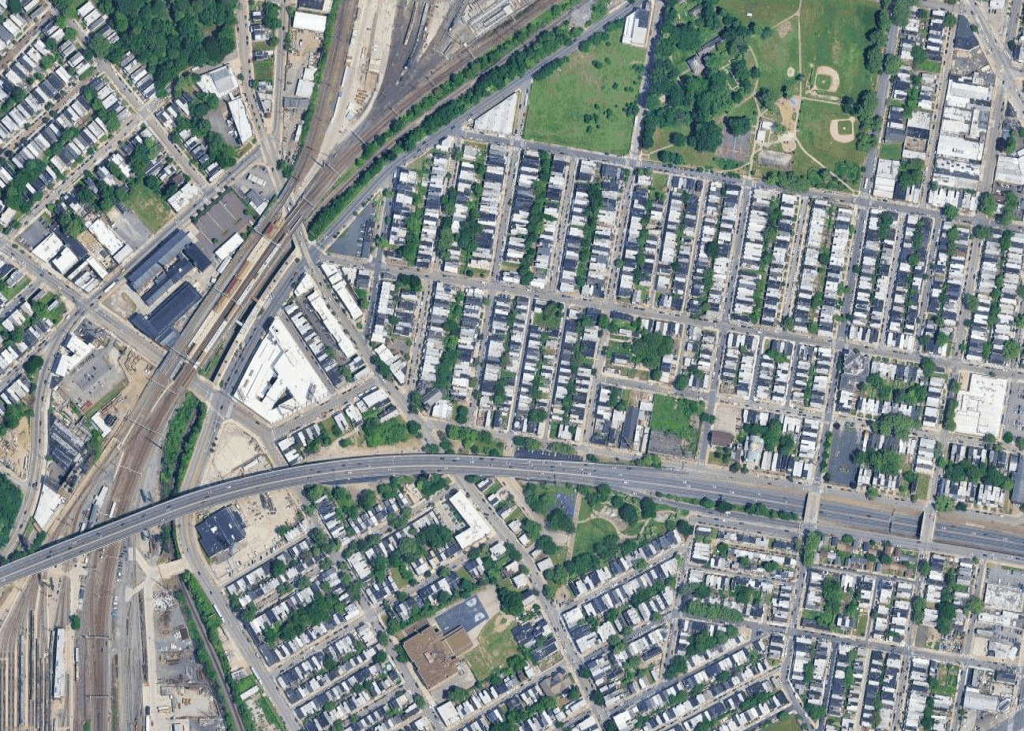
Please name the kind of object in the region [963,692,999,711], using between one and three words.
shed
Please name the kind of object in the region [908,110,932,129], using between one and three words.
building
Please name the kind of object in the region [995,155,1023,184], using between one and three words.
building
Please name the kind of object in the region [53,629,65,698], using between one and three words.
shed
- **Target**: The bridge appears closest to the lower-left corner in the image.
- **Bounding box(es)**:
[0,455,520,584]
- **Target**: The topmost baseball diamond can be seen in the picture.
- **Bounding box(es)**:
[806,66,839,101]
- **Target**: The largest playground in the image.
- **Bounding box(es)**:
[776,95,801,133]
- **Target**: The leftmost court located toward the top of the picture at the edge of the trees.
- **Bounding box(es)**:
[715,116,751,161]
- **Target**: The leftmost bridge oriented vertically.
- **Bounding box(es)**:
[803,487,820,528]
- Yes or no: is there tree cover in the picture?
Yes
